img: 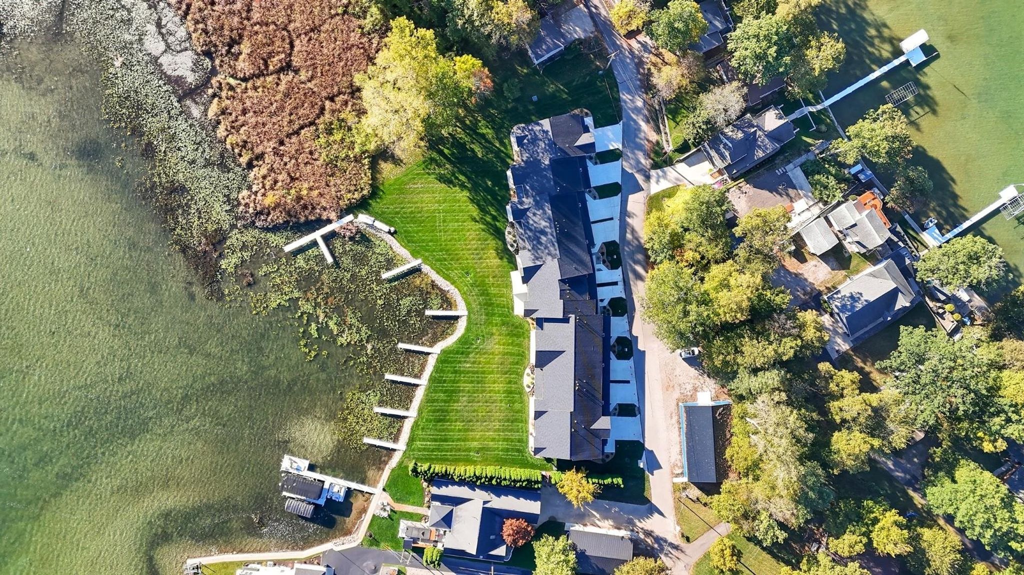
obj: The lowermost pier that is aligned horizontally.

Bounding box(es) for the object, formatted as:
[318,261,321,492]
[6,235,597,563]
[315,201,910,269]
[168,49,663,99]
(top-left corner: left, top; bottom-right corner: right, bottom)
[286,469,381,508]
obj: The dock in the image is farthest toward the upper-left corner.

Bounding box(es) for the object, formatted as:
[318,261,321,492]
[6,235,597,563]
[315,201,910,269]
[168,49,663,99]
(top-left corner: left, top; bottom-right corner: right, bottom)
[284,214,355,264]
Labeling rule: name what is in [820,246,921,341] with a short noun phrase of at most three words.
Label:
house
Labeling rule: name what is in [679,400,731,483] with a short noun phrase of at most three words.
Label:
shed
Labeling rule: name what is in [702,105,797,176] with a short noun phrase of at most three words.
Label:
house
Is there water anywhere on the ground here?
Yes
